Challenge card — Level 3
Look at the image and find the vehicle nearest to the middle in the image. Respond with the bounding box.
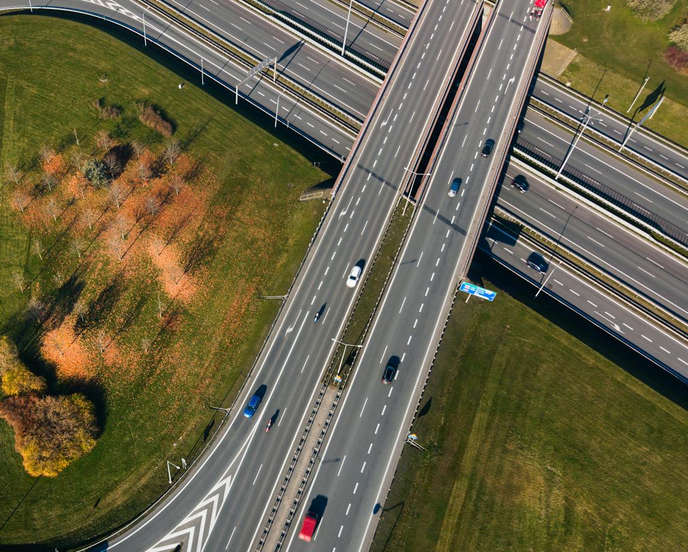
[348,266,364,287]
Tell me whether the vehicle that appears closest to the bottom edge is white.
No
